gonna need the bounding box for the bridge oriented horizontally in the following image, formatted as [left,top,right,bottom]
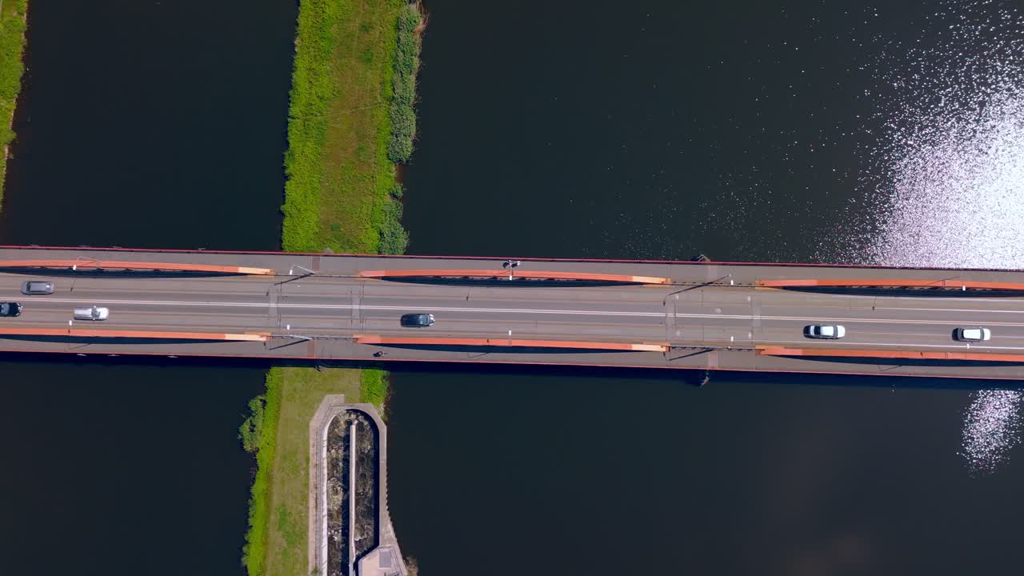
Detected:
[0,245,1024,387]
